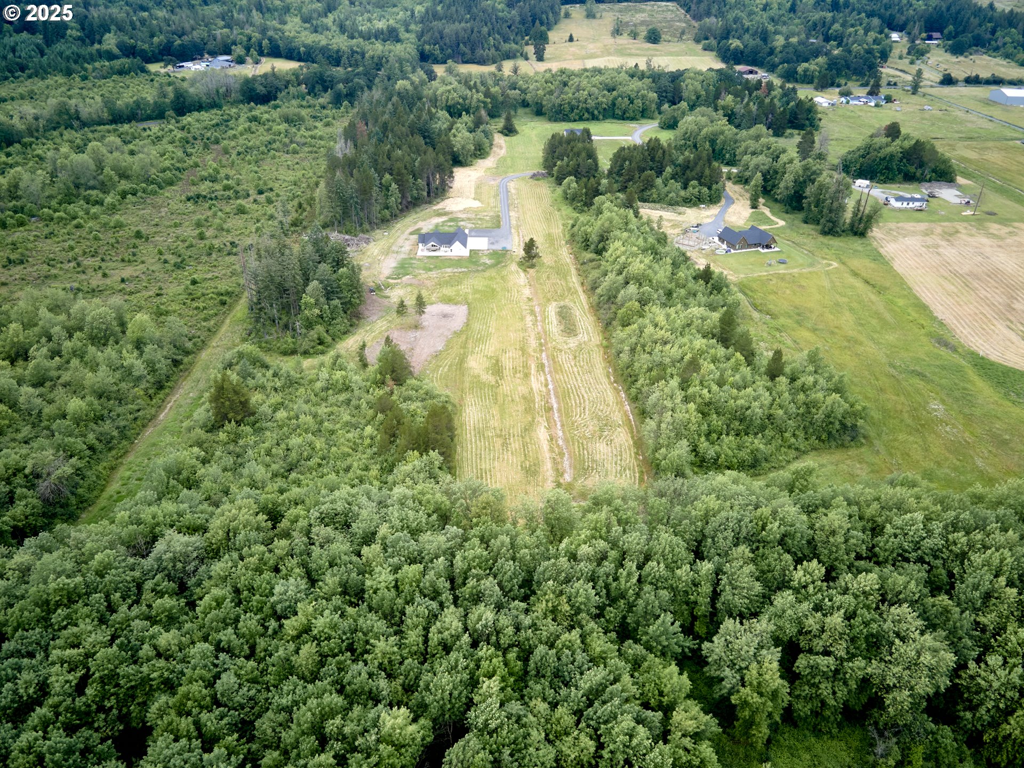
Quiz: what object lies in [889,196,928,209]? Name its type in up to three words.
house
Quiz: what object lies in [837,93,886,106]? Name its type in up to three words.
house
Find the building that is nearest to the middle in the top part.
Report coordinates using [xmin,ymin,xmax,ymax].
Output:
[416,225,474,256]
